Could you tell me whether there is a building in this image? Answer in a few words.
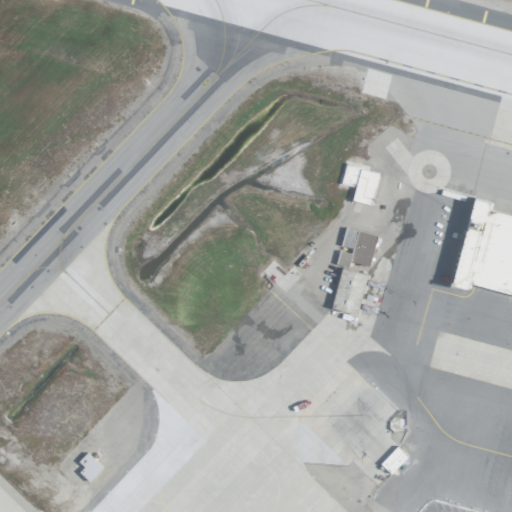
Yes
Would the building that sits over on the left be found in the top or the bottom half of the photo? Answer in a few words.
bottom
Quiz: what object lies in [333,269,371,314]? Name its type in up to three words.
building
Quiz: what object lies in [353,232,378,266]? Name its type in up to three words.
building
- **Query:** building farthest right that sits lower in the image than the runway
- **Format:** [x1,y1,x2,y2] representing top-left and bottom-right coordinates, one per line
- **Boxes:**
[450,198,512,296]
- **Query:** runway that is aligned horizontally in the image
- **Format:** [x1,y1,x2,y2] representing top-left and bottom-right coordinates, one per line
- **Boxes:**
[160,0,512,100]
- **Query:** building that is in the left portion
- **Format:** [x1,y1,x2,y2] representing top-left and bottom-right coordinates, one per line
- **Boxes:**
[80,452,106,482]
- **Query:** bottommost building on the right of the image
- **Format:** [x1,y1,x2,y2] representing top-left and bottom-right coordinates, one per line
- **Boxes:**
[382,446,410,474]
